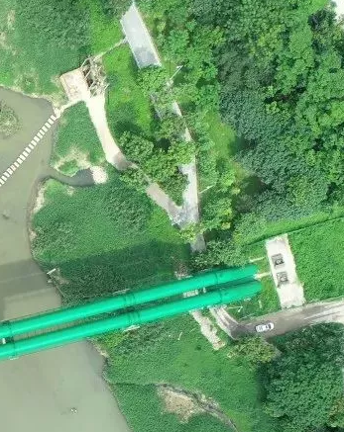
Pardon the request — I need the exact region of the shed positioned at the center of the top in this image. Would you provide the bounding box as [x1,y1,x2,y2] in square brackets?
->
[120,2,161,69]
